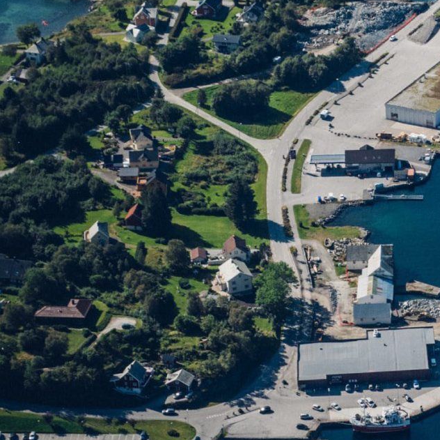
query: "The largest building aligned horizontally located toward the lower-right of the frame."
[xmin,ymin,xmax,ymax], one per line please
[298,325,435,393]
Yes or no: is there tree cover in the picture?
Yes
